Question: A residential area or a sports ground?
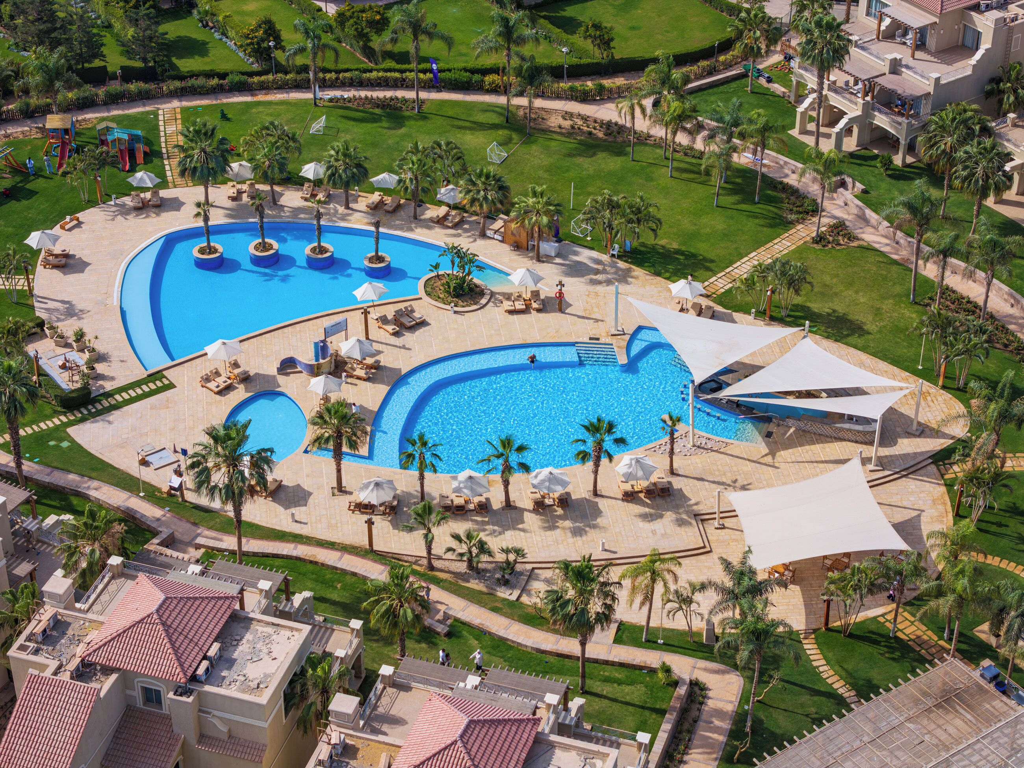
residential area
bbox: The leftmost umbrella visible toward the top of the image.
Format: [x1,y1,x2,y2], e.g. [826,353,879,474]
[22,225,63,259]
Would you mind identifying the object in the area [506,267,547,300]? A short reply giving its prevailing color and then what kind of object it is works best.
white umbrella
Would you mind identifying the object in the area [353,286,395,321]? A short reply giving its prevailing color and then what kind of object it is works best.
white umbrella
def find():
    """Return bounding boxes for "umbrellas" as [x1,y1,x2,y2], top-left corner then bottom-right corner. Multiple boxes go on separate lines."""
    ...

[352,475,403,516]
[615,453,664,494]
[368,170,399,204]
[227,160,251,182]
[444,469,492,511]
[124,168,162,199]
[526,465,575,506]
[297,164,328,184]
[353,286,395,321]
[669,278,706,310]
[22,225,63,259]
[335,335,376,358]
[434,187,465,220]
[203,341,245,378]
[303,374,348,400]
[506,267,547,300]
